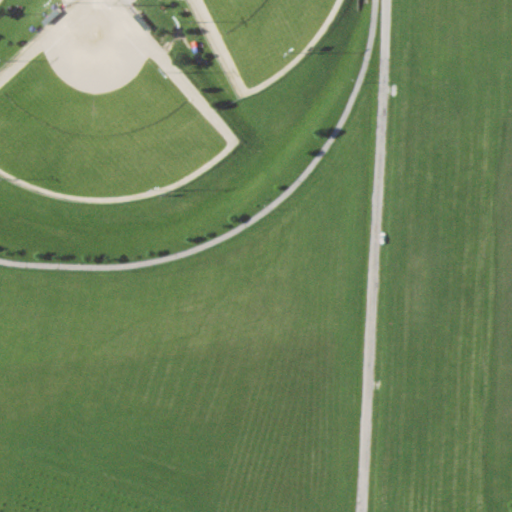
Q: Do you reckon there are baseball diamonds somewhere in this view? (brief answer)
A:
Yes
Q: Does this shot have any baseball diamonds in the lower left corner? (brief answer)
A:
No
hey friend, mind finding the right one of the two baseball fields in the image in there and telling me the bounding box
[187,0,344,99]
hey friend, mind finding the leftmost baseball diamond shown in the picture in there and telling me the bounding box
[0,0,239,203]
